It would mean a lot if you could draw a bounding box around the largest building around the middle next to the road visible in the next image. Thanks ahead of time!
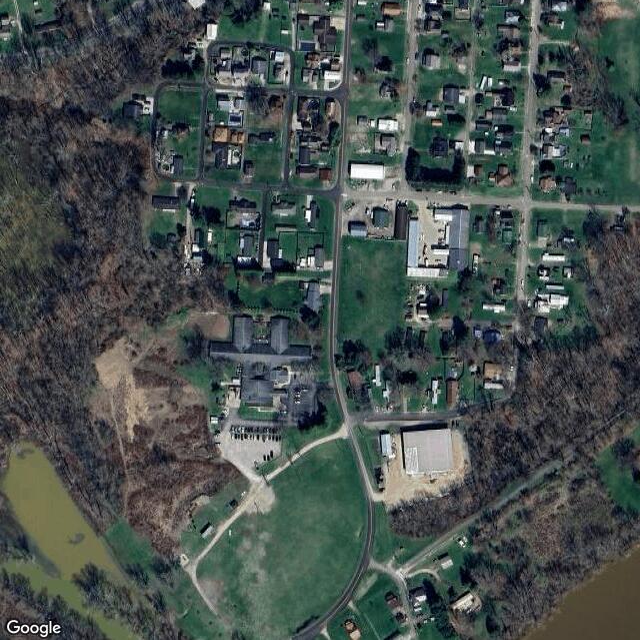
[209,317,312,405]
